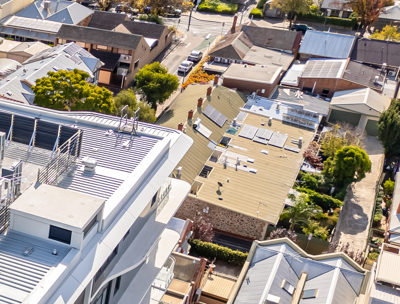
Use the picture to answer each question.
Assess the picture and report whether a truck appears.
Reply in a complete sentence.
No, there isn't any truck down there.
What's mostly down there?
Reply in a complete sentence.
Most of the picture is covered by buildings.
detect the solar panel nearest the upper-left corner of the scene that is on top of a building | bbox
[4,16,65,32]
